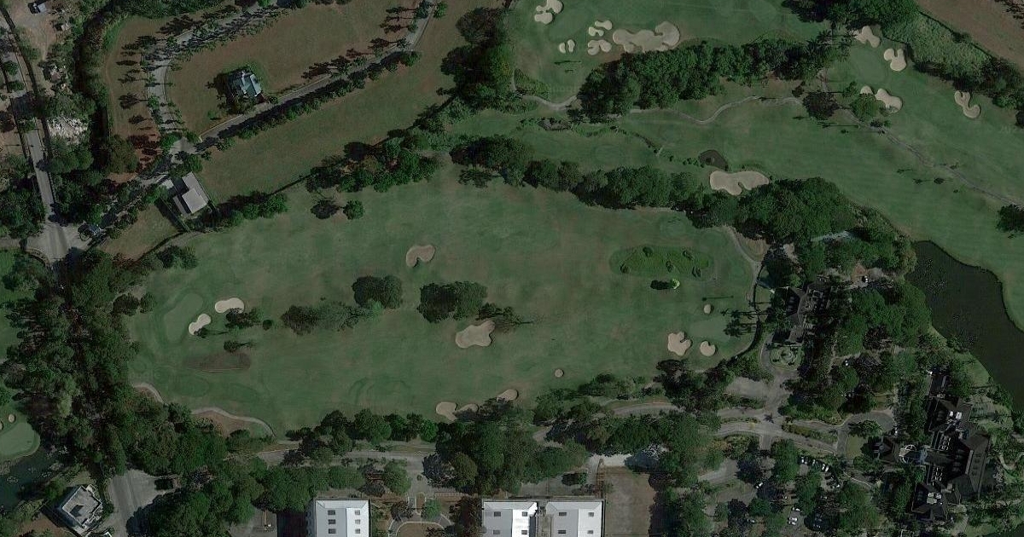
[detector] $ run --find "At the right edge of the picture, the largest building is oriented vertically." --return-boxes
[912,375,990,523]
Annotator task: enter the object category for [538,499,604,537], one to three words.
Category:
building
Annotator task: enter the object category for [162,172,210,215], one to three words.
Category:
house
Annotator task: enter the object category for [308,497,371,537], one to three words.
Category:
building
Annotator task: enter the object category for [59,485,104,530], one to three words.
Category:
house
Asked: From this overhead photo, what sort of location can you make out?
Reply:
golf course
